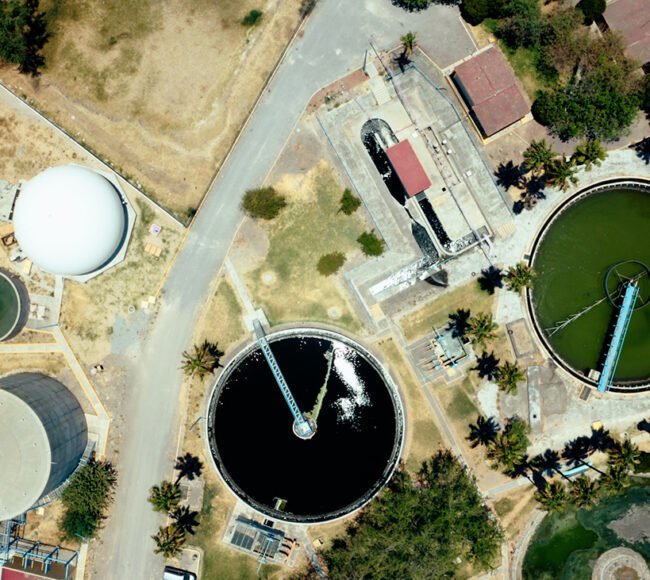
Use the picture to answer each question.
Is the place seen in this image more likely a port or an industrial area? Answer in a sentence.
The picture captures an industrial area.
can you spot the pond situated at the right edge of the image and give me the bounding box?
[517,471,650,580]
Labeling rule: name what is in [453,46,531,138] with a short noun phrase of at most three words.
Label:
building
